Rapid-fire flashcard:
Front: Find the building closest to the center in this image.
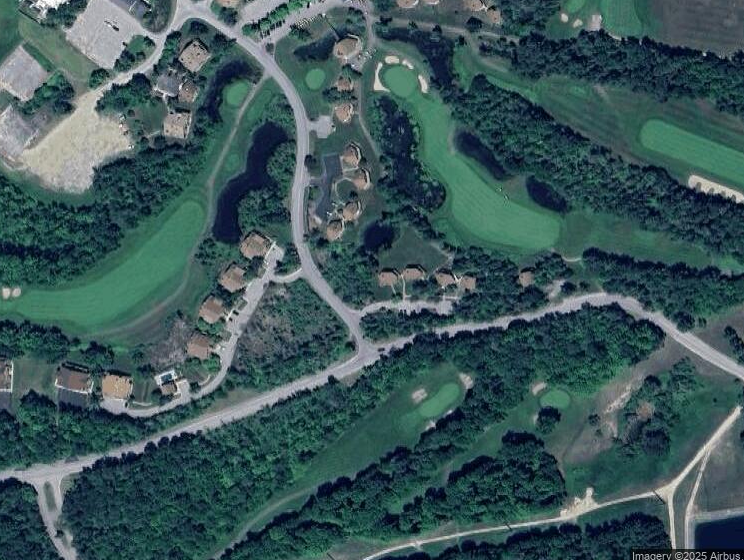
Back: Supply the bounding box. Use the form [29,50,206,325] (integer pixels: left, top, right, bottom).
[376,267,397,287]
